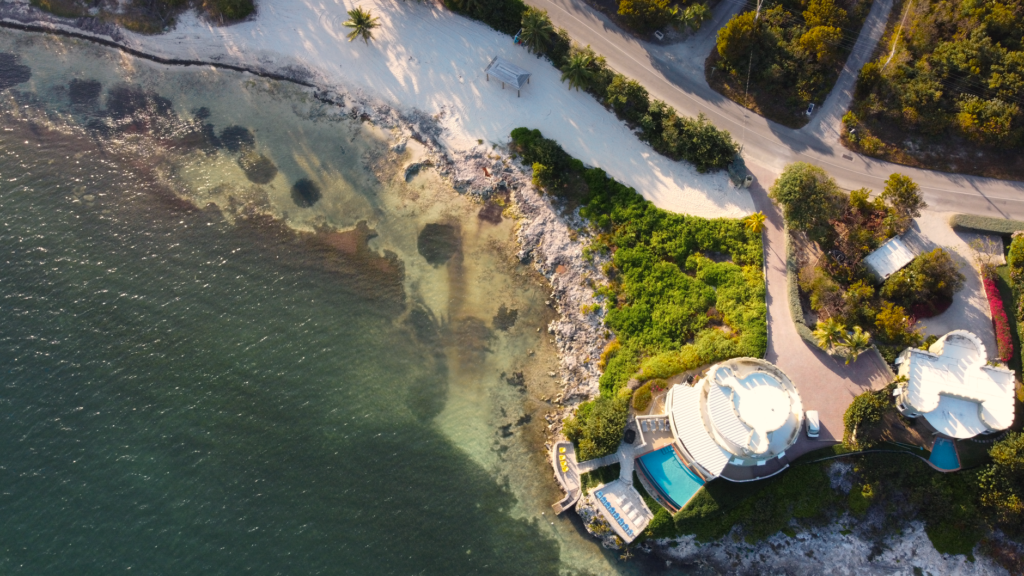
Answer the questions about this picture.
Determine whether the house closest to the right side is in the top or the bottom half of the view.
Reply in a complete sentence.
The house closest to the right side sits in the bottom half of the picture.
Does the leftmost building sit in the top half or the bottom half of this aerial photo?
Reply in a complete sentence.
The top half of the photo is where the leftmost building is.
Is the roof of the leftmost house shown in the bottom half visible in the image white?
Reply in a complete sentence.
Yes, white is the color of the roof of the leftmost house shown in the bottom half.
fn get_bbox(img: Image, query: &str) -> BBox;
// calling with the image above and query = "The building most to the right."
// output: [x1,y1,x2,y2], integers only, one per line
[894,332,1014,439]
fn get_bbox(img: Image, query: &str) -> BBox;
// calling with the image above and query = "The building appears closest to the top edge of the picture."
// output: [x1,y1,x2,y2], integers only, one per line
[485,55,531,97]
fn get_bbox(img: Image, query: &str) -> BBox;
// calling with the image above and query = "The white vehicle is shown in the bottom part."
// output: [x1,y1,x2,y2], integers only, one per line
[804,406,823,436]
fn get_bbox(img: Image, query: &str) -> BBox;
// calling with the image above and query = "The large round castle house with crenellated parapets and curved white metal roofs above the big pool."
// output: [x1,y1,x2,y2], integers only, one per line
[665,362,806,481]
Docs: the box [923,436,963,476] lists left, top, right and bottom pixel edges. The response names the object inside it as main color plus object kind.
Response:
blue swimming pool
